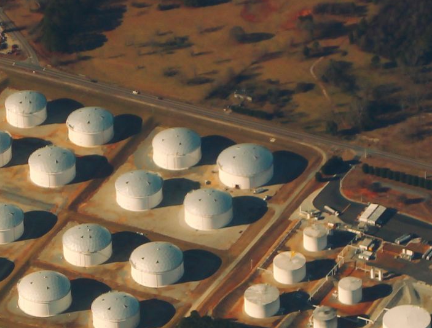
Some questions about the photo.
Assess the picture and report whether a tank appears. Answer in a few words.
Yes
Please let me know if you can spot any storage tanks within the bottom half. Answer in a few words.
Yes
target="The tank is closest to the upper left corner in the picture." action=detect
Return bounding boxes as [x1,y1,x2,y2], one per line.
[3,90,48,129]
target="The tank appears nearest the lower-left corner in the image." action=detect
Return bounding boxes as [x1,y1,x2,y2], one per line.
[16,270,74,318]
